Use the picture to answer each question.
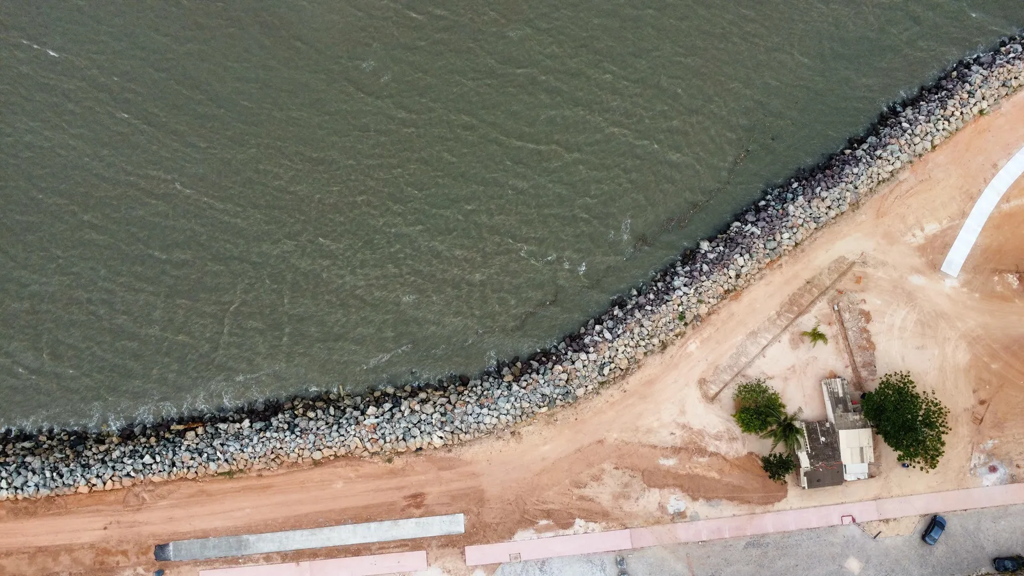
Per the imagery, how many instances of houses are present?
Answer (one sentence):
The photo contains exactly 1 house.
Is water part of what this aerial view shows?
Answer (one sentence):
Yes, the picture does contain water.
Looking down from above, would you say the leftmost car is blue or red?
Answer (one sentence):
From above, the leftmost car appears blue.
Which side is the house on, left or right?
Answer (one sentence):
You can find the house on the right side of the picture.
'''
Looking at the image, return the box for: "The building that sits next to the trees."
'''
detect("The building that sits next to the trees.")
[794,377,883,489]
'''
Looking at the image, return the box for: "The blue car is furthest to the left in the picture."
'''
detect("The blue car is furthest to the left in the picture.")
[923,515,947,547]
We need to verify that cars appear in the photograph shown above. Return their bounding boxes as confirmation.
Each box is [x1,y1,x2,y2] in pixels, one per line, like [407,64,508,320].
[993,557,1024,574]
[923,515,947,547]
